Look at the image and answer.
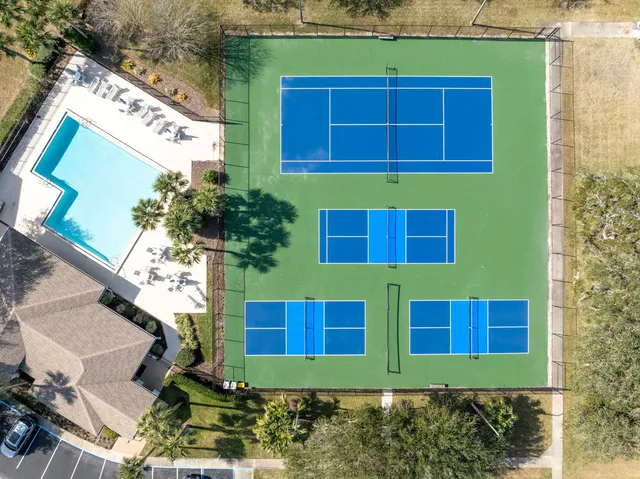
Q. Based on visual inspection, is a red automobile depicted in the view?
No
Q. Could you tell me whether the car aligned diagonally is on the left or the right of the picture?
left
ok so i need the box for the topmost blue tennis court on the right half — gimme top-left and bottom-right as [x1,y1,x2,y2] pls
[281,76,493,174]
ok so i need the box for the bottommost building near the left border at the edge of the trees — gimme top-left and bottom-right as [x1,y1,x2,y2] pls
[0,226,172,441]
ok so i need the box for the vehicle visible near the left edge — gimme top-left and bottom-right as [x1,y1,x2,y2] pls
[2,413,37,456]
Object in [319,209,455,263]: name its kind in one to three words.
sports court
